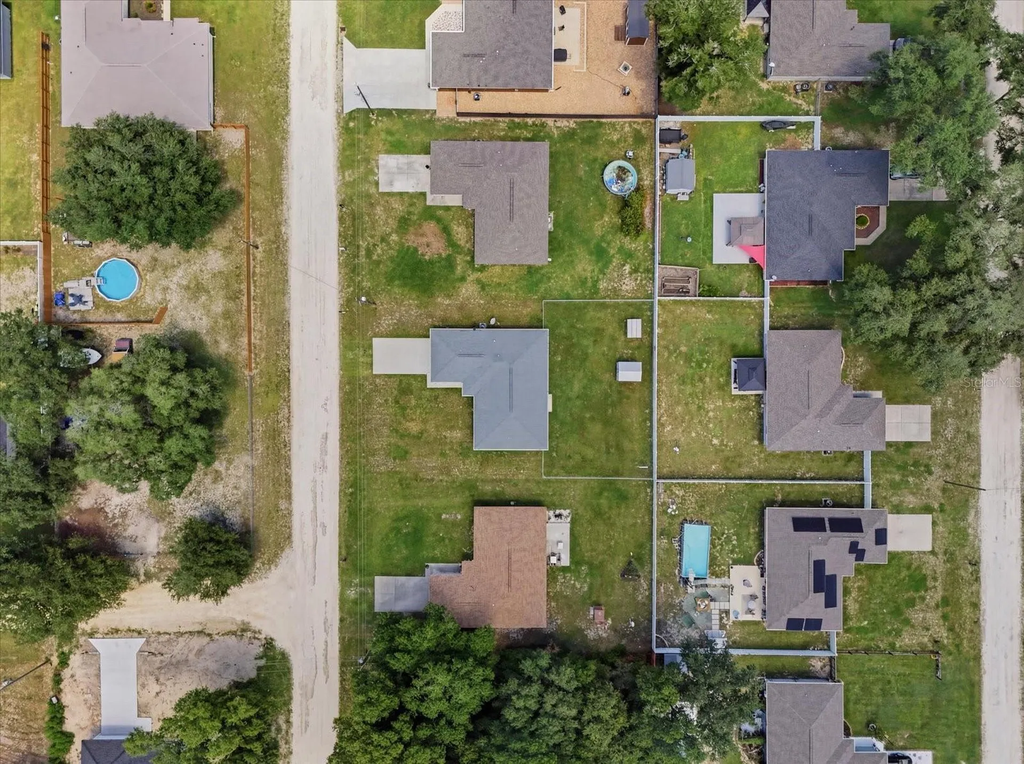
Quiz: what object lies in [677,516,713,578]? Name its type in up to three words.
swimming pool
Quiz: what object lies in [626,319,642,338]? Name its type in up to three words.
shed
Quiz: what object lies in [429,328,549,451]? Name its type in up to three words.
house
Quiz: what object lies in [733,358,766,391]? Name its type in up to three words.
gazebo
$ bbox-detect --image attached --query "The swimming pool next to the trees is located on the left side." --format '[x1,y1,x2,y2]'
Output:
[96,258,144,303]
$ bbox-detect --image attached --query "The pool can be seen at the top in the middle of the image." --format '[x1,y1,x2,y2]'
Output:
[602,160,637,196]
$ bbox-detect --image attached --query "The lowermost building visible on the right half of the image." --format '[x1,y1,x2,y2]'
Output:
[763,678,888,764]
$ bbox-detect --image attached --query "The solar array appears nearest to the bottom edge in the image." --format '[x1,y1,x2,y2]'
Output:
[786,618,823,630]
